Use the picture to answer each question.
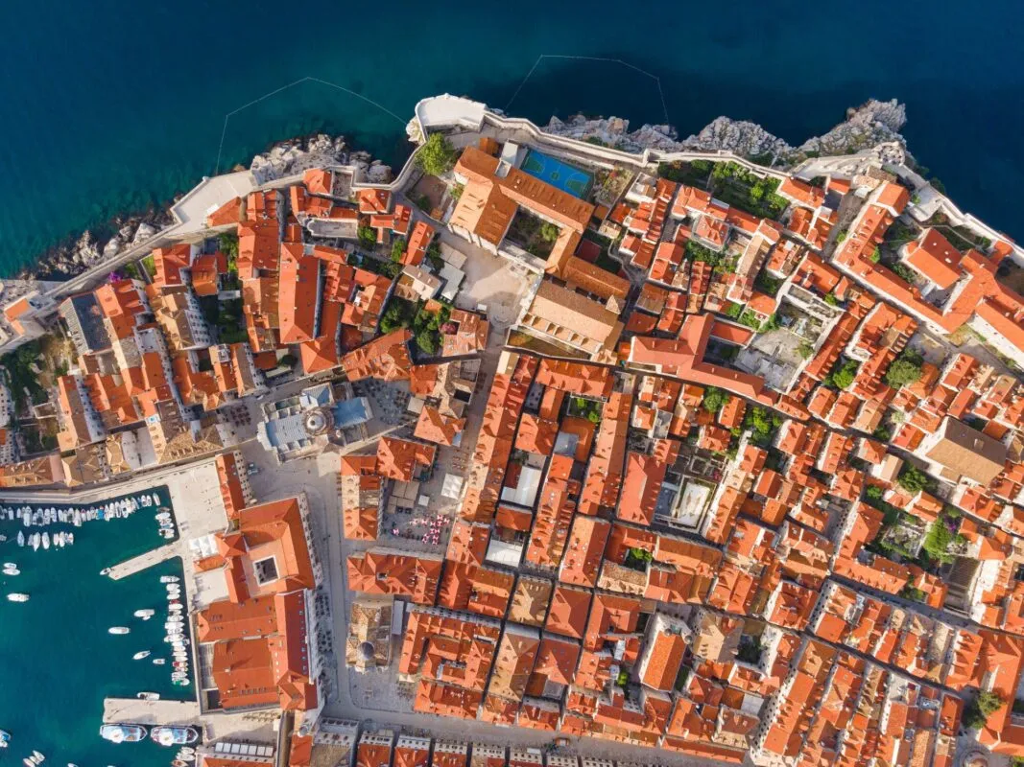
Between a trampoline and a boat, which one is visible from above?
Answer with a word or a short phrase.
boat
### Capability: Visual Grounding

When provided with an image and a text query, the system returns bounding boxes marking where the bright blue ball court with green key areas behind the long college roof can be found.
[517,147,599,201]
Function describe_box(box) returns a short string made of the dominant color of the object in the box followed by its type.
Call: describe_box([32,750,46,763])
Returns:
white boat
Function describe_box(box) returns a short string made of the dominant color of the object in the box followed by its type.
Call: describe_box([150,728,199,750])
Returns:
white boat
